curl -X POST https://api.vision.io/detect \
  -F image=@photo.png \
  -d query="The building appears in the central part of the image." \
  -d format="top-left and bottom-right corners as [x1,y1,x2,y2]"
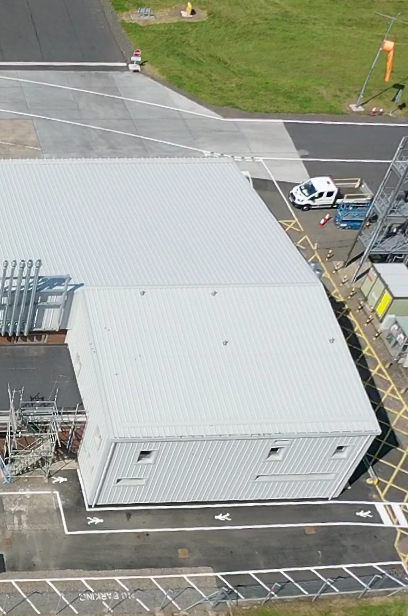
[0,158,383,509]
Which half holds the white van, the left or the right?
right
